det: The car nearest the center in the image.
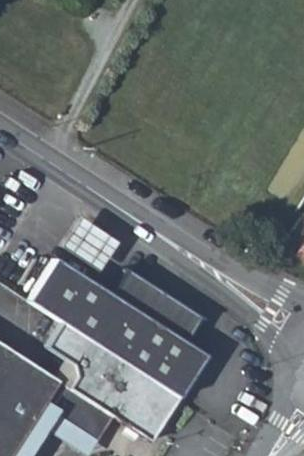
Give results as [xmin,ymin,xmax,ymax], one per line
[132,225,153,242]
